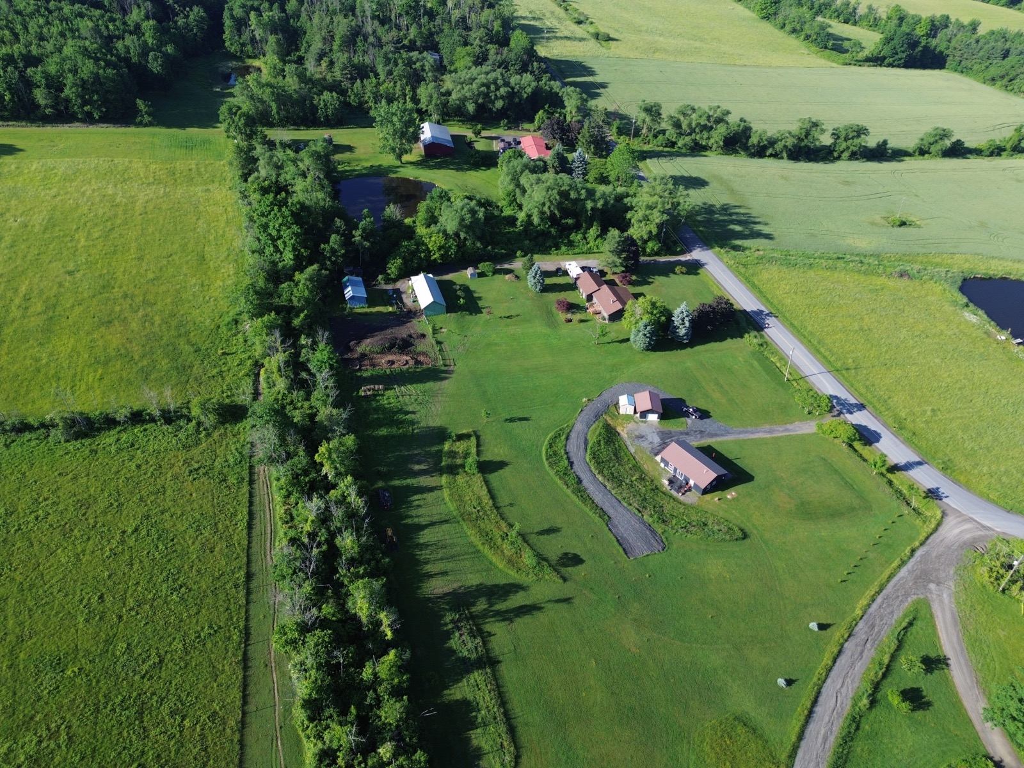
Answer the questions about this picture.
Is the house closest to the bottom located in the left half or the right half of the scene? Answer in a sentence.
It is on the right.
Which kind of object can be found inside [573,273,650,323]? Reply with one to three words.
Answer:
house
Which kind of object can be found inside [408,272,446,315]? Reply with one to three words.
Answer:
barn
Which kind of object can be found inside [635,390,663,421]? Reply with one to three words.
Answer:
building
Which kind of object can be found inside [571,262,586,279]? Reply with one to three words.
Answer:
vehicle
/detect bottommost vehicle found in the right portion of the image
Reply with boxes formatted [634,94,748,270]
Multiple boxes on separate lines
[681,408,706,421]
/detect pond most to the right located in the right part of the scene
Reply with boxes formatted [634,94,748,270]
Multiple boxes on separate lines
[959,277,1024,343]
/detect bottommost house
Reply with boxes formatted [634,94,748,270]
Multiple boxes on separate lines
[659,440,731,495]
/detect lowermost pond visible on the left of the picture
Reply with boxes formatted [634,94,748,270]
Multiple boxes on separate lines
[339,176,436,228]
